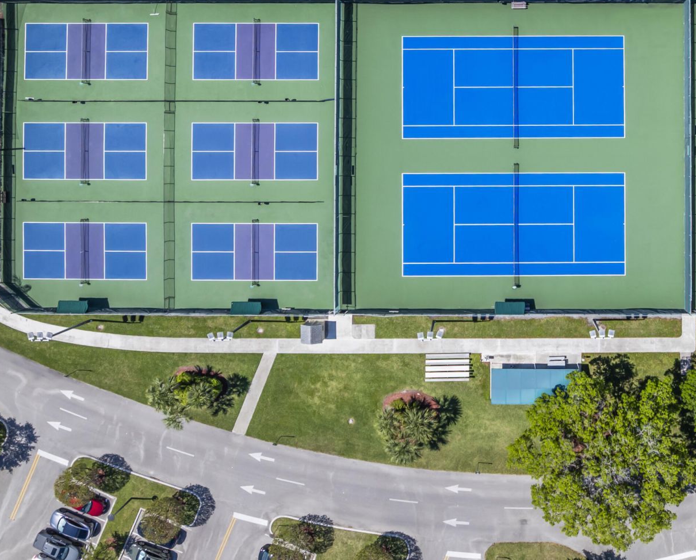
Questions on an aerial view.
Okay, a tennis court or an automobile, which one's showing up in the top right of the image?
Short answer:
tennis court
